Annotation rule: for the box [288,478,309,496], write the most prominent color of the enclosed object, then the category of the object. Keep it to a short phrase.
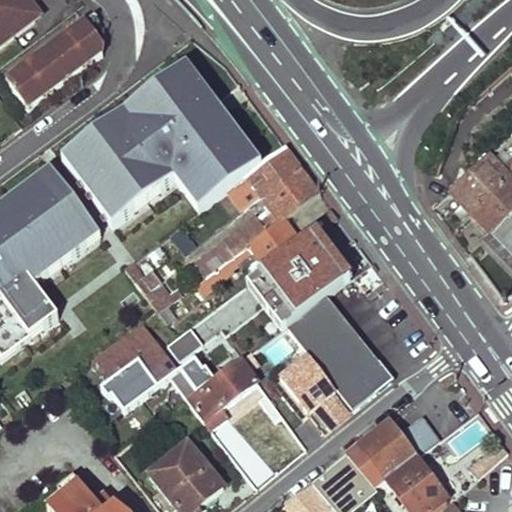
white car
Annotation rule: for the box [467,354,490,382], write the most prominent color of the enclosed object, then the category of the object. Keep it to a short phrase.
white vehicle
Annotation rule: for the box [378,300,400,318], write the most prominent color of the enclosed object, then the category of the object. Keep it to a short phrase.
white car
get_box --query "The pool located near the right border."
[446,418,492,459]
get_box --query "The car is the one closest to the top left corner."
[17,28,38,48]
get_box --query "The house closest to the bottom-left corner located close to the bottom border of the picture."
[45,472,104,512]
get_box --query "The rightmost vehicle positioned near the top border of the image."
[258,26,278,48]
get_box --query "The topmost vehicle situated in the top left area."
[86,8,102,26]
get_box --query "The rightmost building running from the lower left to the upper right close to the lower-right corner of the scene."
[470,451,508,484]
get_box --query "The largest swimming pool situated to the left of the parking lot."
[264,336,296,367]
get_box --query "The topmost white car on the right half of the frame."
[310,116,328,138]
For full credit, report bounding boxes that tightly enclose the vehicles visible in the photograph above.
[448,400,468,421]
[103,454,120,472]
[86,8,102,26]
[390,392,414,412]
[306,463,328,482]
[38,401,58,421]
[402,329,424,347]
[17,28,38,48]
[408,341,429,358]
[422,294,440,316]
[310,116,328,138]
[70,88,92,106]
[388,309,410,327]
[464,502,488,512]
[489,473,500,494]
[503,352,512,370]
[30,474,51,494]
[467,354,490,382]
[378,300,400,318]
[288,478,309,496]
[500,465,512,491]
[258,26,278,48]
[450,269,468,290]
